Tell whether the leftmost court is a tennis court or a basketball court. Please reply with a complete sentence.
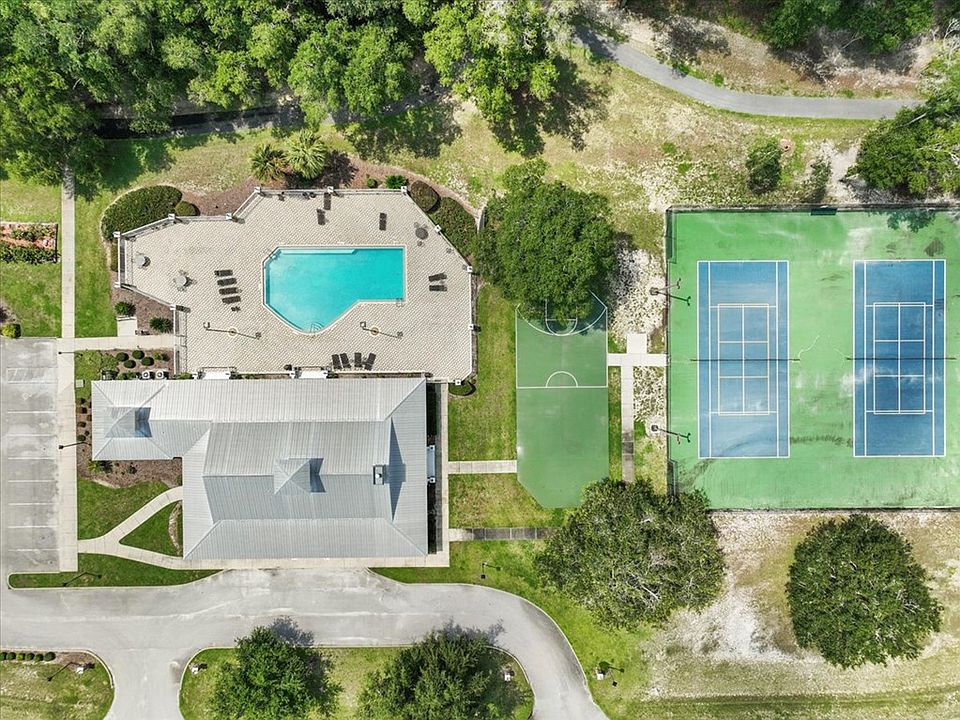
It turns out the leftmost court is a basketball court.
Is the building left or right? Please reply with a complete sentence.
The building sits on the left side.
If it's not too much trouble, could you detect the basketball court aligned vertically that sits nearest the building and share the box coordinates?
[516,291,609,508]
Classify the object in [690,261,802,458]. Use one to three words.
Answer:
tennis court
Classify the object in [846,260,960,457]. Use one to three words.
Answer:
tennis court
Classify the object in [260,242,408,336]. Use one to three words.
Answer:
swimming pool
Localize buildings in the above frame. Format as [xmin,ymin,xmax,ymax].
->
[91,377,427,560]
